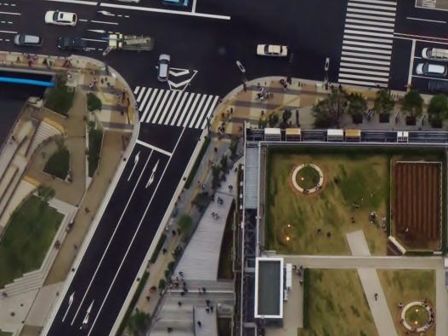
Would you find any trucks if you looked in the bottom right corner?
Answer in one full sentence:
No, no truck can be made out in the bottom right corner.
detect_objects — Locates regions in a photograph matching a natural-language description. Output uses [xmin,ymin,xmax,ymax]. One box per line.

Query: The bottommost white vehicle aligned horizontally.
[417,63,446,78]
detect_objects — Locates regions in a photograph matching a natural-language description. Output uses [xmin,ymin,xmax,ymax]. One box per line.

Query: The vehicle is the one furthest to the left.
[14,32,43,47]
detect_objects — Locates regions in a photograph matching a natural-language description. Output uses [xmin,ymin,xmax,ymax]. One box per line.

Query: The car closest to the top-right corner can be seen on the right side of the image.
[422,45,448,60]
